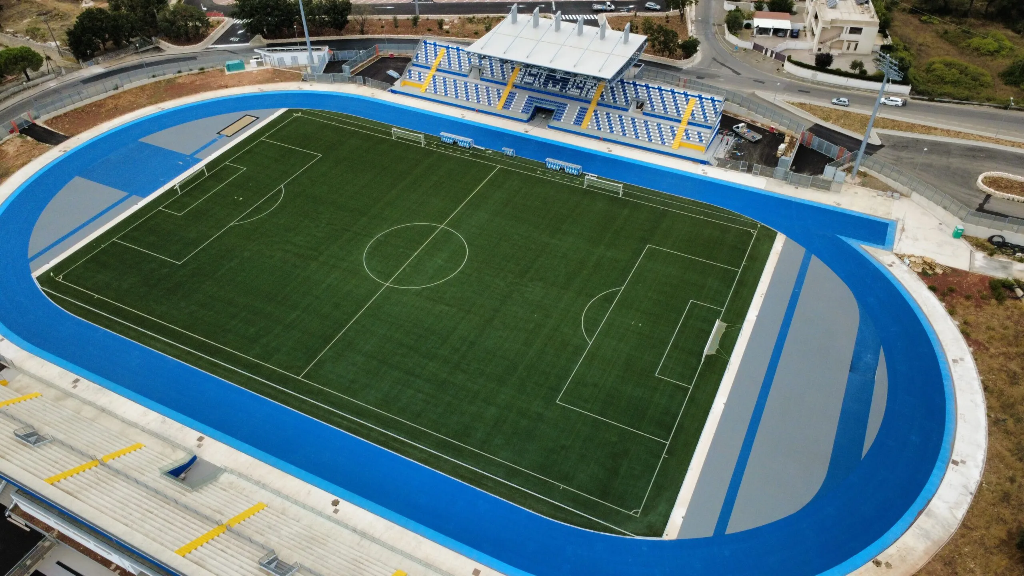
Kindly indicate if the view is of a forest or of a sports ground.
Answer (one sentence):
It's a sports ground.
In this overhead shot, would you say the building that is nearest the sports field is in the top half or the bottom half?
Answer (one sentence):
The top half of the photo is where the building that is nearest the sports field is.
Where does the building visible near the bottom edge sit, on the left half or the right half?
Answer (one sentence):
The building visible near the bottom edge is on the left side of the image.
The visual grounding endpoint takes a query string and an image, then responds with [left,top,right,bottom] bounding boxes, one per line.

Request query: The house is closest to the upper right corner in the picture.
[790,0,882,56]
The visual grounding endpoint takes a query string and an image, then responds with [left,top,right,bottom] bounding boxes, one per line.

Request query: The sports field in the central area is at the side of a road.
[35,109,776,538]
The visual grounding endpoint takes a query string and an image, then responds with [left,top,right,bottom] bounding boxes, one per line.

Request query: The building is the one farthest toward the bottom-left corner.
[6,493,156,576]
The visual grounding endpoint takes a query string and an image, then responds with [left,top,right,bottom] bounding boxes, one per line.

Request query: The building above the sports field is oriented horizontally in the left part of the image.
[253,42,326,67]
